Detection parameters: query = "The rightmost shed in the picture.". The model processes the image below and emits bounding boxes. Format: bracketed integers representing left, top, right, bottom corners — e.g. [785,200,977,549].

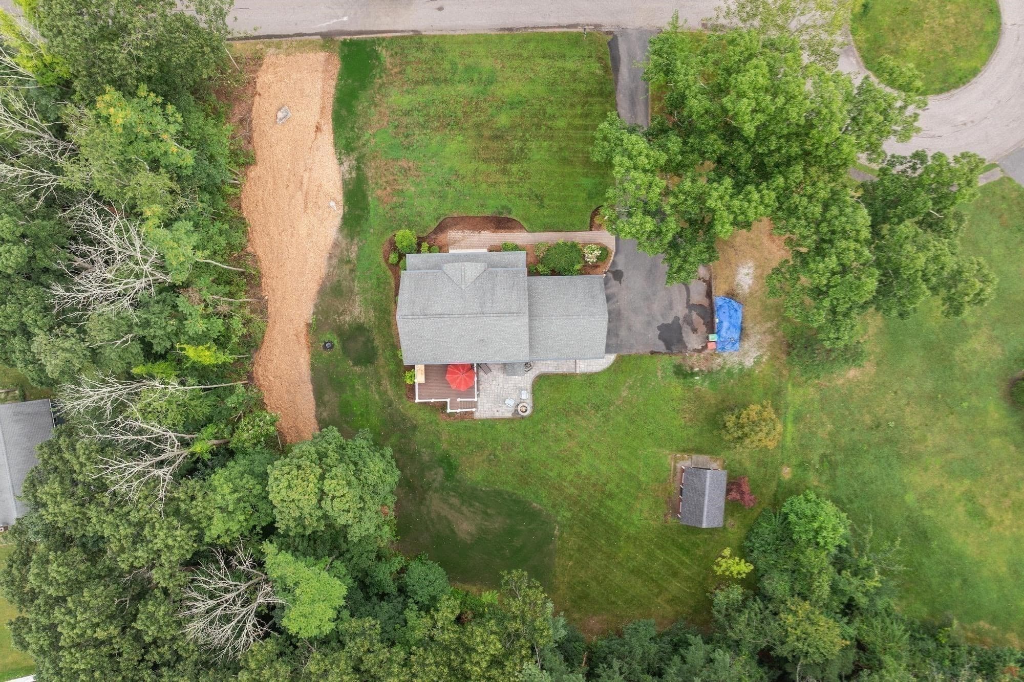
[674,462,727,529]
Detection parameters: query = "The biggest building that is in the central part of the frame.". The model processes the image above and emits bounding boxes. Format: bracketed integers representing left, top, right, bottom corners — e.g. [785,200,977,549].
[396,248,608,375]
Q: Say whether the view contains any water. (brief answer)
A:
No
